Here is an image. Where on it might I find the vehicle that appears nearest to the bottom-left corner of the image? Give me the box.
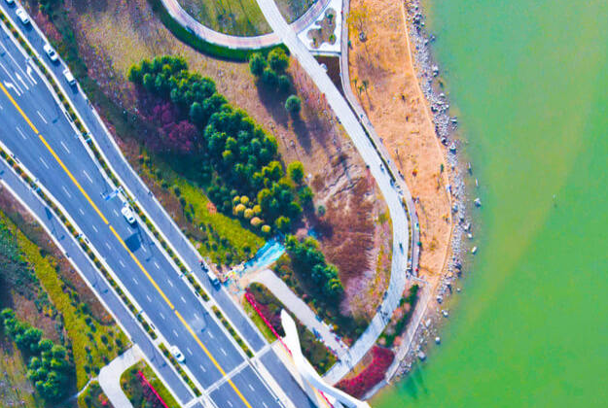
[169,344,184,362]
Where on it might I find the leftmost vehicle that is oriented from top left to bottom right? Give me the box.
[14,8,29,25]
